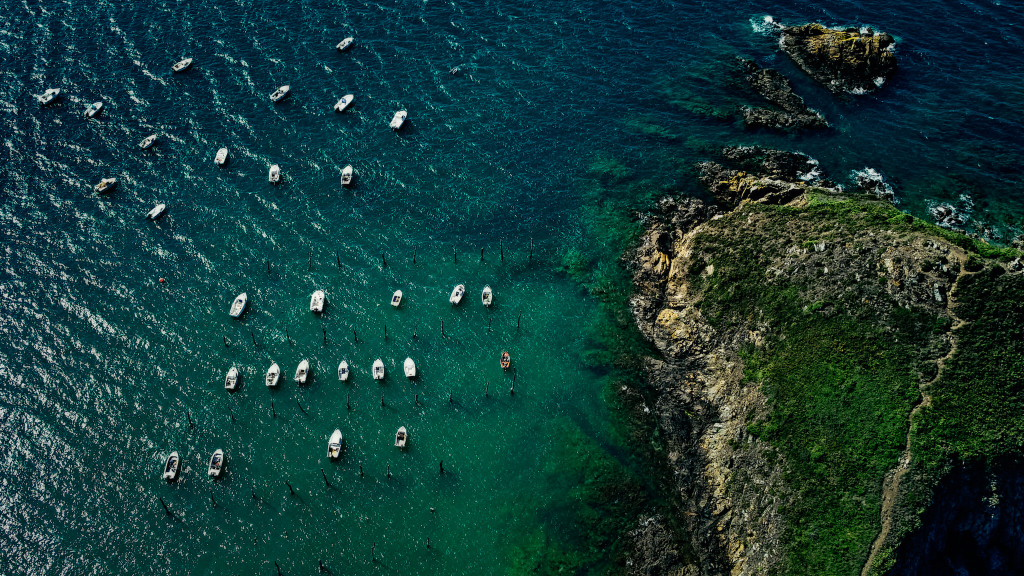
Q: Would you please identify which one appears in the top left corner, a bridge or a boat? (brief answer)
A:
boat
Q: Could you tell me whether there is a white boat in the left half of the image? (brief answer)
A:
Yes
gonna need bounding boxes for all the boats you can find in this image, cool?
[171,56,192,72]
[208,448,225,480]
[389,289,403,308]
[224,363,238,392]
[268,164,280,185]
[310,287,327,315]
[481,282,493,307]
[389,109,408,130]
[449,66,459,75]
[500,352,510,370]
[214,147,229,166]
[325,426,343,461]
[147,204,165,219]
[162,451,180,483]
[38,88,60,105]
[95,177,116,194]
[84,102,103,118]
[372,355,385,383]
[264,360,280,389]
[337,359,350,384]
[229,291,247,319]
[336,37,353,51]
[270,84,289,102]
[294,357,310,386]
[403,356,417,380]
[334,94,354,113]
[394,425,408,451]
[340,164,354,187]
[138,133,156,150]
[449,282,465,308]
